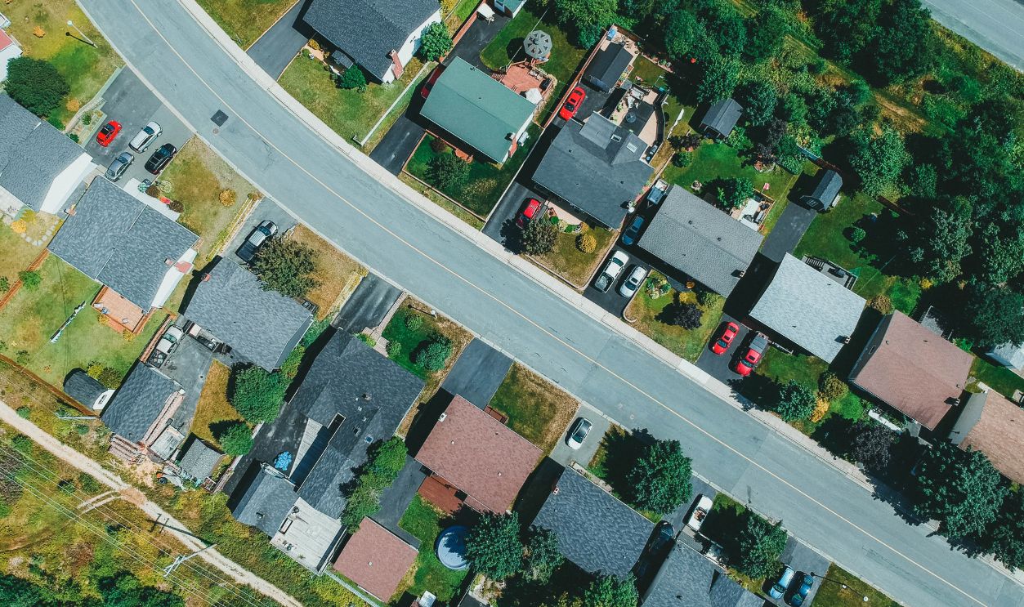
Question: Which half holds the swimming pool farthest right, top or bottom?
bottom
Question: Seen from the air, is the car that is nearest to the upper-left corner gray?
No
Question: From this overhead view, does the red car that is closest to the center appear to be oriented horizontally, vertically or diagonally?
diagonally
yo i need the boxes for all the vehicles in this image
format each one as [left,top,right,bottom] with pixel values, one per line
[415,65,442,98]
[567,416,592,451]
[158,469,170,484]
[621,213,645,246]
[769,563,798,599]
[236,219,277,263]
[711,320,740,355]
[105,150,135,183]
[129,119,163,155]
[559,87,586,120]
[148,325,185,367]
[788,571,816,607]
[685,494,714,530]
[145,141,177,177]
[645,519,674,559]
[735,330,771,376]
[95,119,123,149]
[516,195,543,228]
[596,250,628,293]
[621,263,648,298]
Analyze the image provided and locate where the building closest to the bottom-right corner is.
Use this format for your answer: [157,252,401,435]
[946,389,1024,485]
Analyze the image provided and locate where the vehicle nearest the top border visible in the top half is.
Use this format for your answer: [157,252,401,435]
[478,2,497,23]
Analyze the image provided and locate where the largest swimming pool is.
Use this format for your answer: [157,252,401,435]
[435,525,477,570]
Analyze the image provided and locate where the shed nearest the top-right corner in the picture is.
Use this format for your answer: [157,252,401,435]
[797,167,844,211]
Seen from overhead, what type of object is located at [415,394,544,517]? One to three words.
house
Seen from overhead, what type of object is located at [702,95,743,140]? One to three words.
shed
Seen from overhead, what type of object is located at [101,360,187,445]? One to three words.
building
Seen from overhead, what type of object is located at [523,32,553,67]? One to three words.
gazebo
